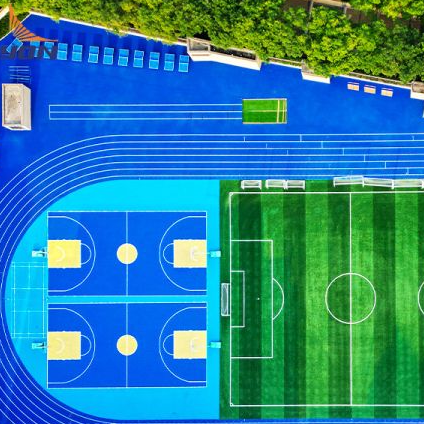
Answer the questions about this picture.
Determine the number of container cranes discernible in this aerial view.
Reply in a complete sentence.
The picture shows no container cranes.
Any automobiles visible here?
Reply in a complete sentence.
No, the picture doesn't show any automobile.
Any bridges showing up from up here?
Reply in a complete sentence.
No, there is no bridge in the image.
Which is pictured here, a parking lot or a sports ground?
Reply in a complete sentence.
What you see here is a sports ground.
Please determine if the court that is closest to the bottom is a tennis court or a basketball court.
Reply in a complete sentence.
It looks like the court that is closest to the bottom is a basketball court.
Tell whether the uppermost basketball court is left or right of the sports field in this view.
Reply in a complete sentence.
Looking at the picture, you'll find the uppermost basketball court to the left of the sports field.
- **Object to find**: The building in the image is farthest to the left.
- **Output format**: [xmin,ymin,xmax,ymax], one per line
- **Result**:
[2,85,31,131]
